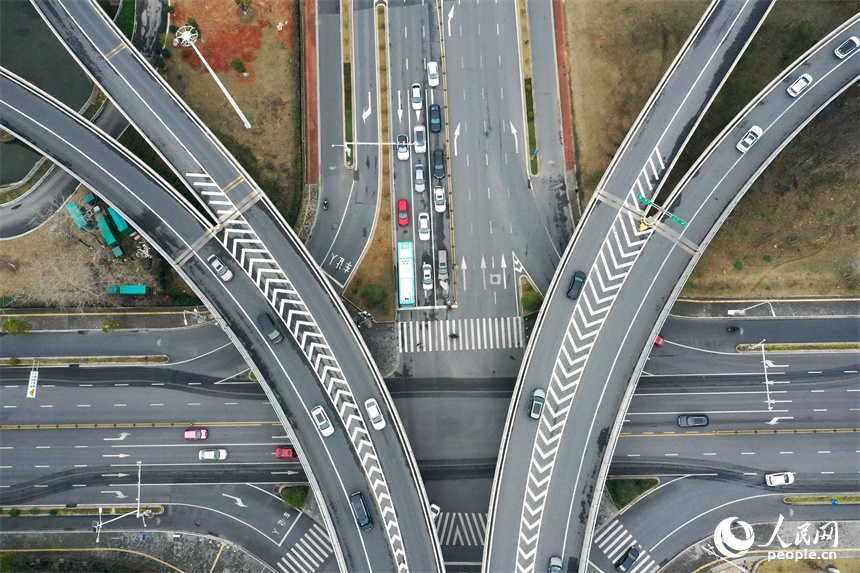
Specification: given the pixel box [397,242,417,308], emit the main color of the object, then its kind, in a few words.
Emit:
white bus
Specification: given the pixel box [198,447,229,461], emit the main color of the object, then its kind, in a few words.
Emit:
white car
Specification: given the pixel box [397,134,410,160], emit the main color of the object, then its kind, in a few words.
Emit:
white vehicle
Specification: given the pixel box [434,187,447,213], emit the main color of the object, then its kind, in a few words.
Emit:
white vehicle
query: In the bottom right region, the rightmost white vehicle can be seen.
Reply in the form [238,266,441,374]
[763,471,795,486]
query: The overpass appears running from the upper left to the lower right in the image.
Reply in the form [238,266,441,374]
[0,0,447,573]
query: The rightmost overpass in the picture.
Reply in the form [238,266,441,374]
[479,0,860,573]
